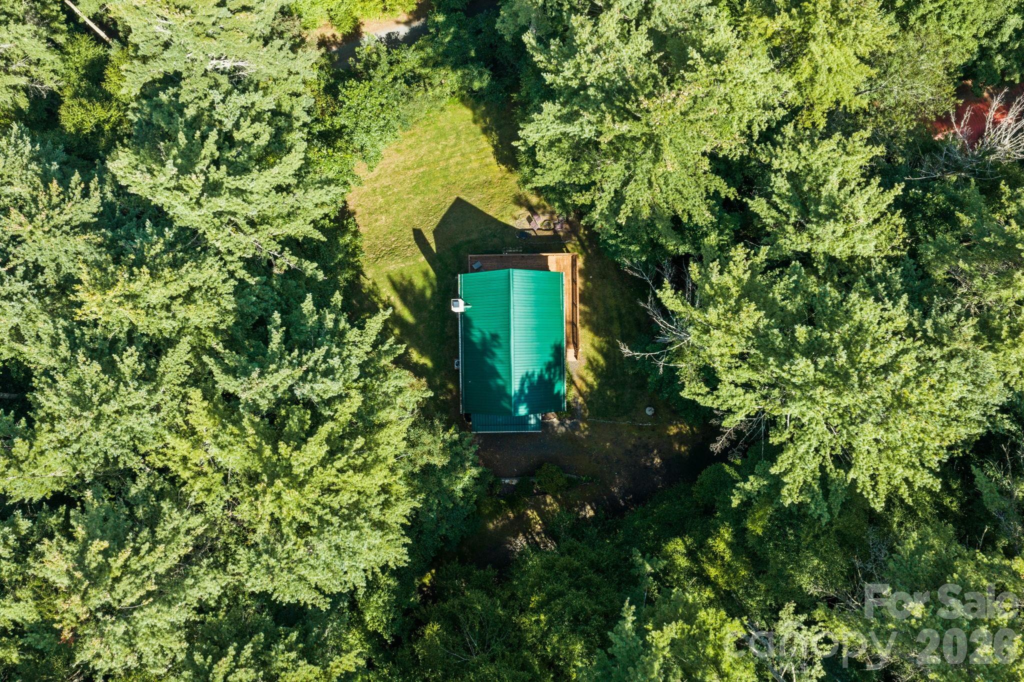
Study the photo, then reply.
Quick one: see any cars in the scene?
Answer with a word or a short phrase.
No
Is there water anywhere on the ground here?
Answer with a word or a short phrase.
No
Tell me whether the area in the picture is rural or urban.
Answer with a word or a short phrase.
rural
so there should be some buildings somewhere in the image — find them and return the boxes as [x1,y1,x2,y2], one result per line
[451,270,568,434]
